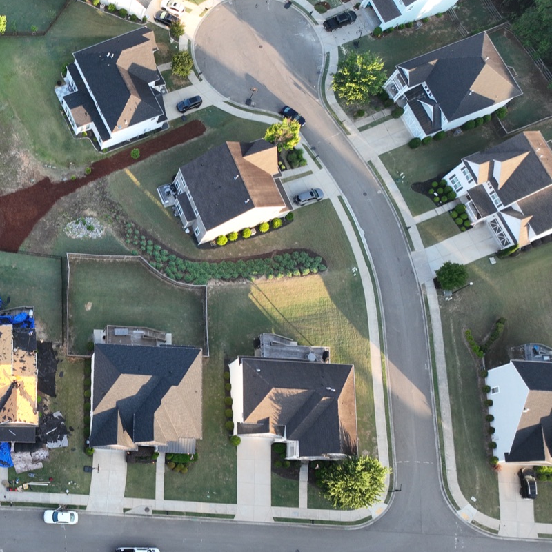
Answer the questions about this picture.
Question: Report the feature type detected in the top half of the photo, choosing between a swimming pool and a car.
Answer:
car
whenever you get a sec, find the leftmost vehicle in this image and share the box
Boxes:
[42,509,79,525]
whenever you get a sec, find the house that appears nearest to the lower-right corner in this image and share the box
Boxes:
[481,341,552,464]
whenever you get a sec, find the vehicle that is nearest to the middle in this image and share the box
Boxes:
[289,187,325,208]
